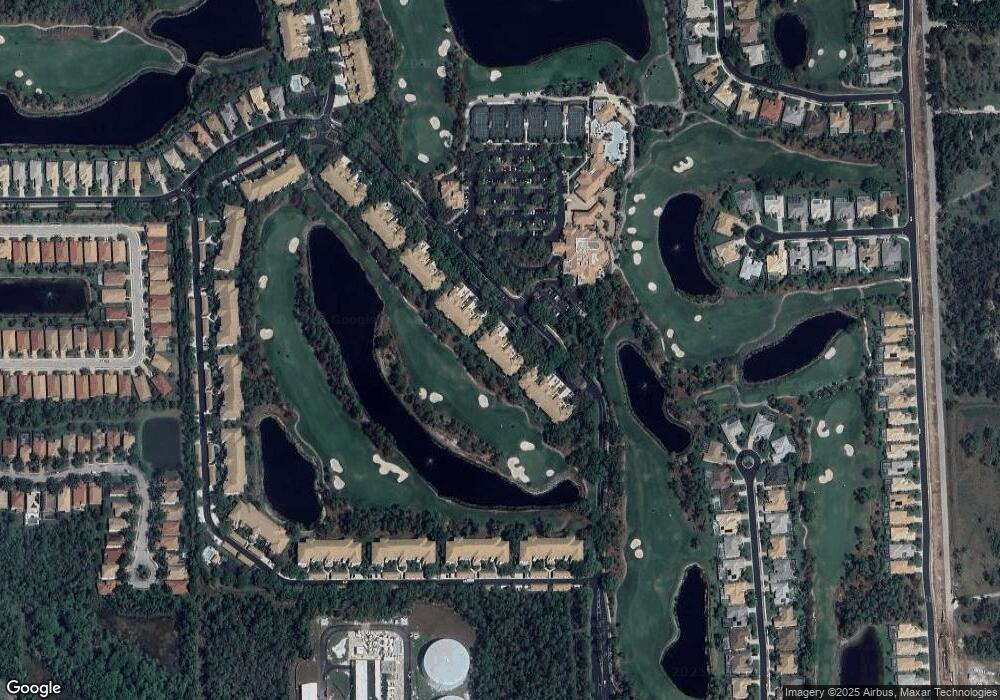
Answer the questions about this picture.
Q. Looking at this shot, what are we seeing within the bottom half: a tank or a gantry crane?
tank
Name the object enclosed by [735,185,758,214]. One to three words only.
house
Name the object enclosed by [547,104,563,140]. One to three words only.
tennis court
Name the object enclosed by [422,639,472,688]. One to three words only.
storage tank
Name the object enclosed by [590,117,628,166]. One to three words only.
swimming pool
